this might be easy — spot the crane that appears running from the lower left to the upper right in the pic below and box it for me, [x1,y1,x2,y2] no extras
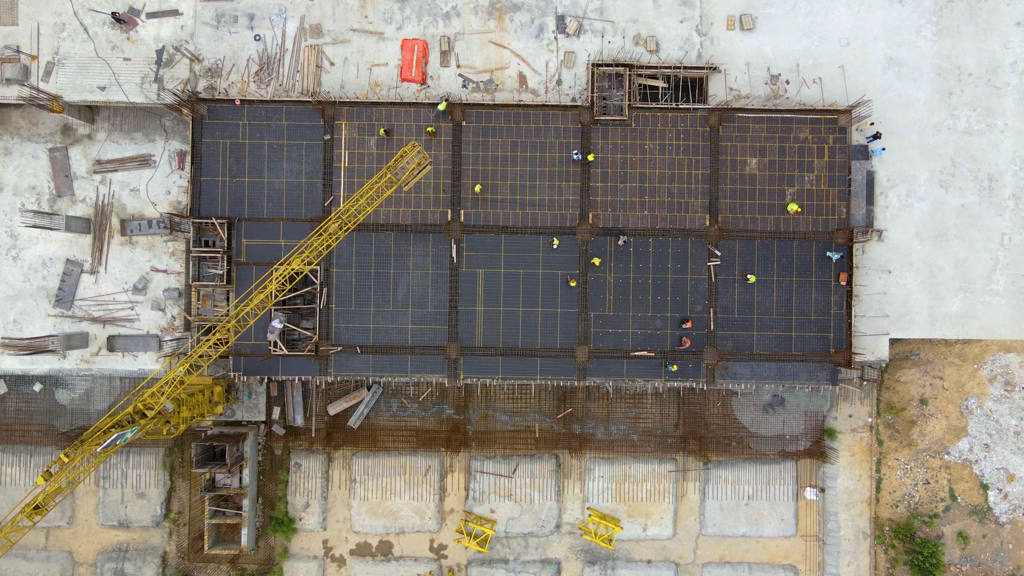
[0,138,439,565]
